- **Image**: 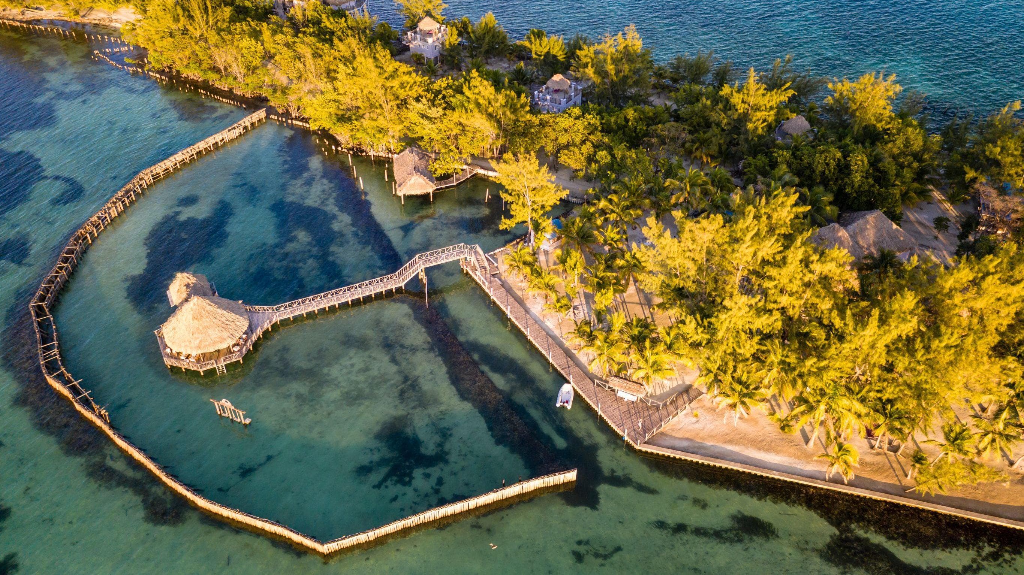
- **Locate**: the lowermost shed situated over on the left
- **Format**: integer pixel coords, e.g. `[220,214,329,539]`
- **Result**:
[152,295,283,387]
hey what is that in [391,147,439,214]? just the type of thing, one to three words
building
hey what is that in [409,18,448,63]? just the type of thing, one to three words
house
